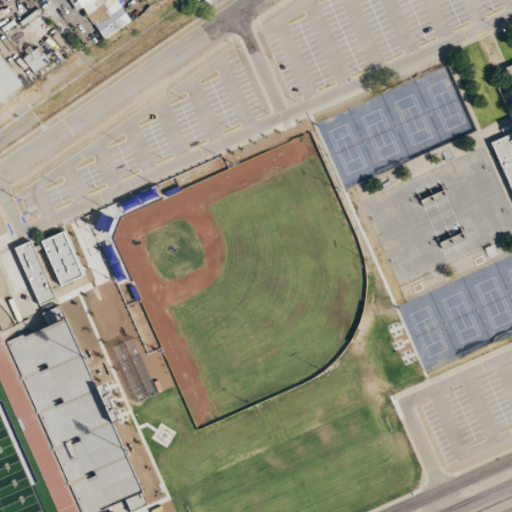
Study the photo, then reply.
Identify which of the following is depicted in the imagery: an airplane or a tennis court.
tennis court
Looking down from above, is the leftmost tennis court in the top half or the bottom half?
top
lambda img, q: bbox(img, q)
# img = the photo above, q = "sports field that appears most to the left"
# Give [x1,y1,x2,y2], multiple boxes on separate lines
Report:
[0,379,58,512]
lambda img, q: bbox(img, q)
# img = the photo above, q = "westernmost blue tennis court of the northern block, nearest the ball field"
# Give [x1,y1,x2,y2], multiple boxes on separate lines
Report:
[317,110,378,189]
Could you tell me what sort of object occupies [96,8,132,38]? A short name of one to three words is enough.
shed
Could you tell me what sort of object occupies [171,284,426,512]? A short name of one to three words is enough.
soccer field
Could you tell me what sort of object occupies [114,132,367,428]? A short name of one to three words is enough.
baseball field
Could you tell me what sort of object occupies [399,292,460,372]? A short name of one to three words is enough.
tennis court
